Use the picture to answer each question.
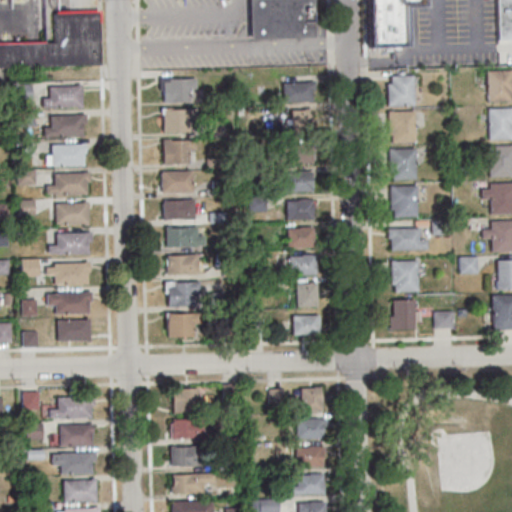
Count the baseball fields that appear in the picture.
1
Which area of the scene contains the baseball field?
bottom right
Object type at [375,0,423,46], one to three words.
building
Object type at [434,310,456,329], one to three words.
building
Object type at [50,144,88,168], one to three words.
house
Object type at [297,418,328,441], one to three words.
house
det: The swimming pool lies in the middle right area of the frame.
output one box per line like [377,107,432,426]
[472,240,487,254]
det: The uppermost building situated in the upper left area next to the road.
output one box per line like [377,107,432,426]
[0,10,102,68]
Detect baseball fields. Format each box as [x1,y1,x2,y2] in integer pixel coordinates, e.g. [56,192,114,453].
[430,428,494,494]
